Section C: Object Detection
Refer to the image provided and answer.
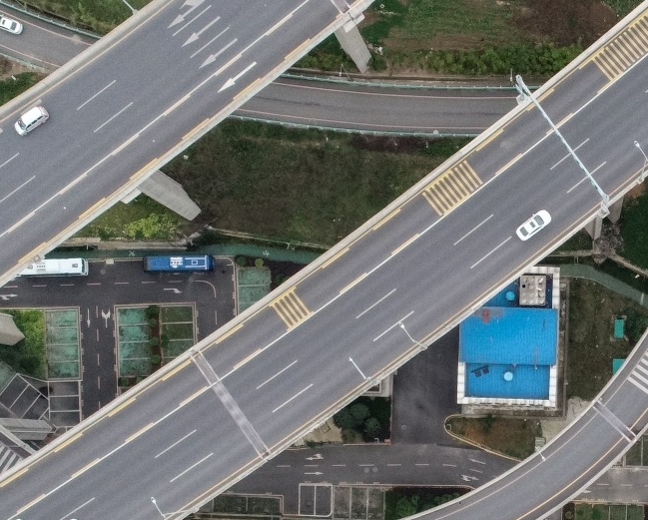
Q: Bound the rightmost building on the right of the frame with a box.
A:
[458,265,560,407]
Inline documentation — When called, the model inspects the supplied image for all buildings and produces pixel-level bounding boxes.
[458,265,560,407]
[358,370,397,397]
